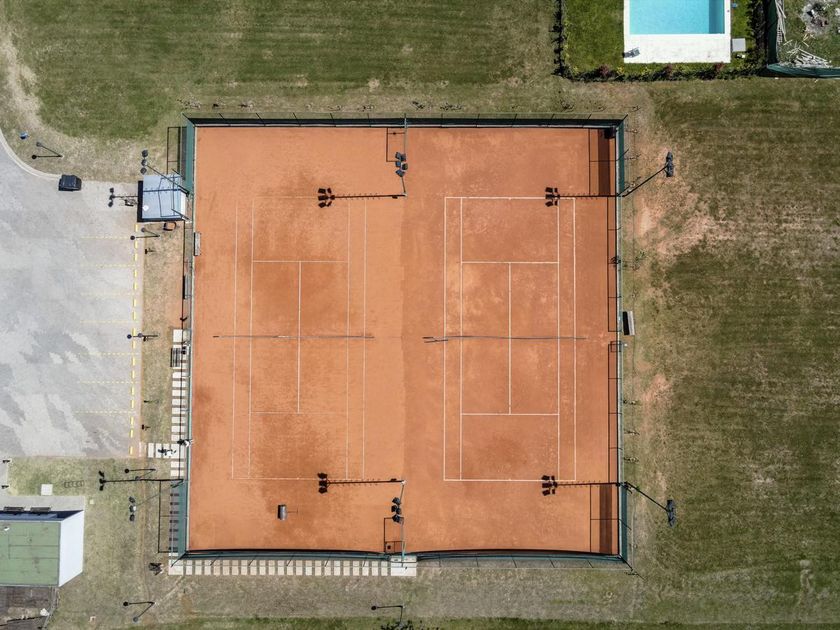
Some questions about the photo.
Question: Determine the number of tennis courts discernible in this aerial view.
two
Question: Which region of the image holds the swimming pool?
top right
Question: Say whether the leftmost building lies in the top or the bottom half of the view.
bottom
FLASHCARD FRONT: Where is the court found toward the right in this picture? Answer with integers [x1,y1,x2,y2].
[404,128,619,553]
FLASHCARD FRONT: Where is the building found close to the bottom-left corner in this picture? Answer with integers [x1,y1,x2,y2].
[0,511,83,590]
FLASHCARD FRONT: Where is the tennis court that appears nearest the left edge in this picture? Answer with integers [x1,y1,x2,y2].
[187,128,404,553]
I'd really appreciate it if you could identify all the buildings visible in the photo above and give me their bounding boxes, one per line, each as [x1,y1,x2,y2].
[0,511,83,590]
[144,174,186,222]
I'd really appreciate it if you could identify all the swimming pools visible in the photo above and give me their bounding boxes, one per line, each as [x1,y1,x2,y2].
[623,0,735,62]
